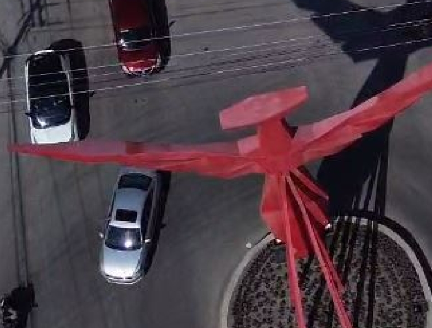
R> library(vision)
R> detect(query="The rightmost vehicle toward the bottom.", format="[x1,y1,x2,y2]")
[97,173,159,286]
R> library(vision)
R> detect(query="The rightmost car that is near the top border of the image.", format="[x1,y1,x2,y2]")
[108,0,164,80]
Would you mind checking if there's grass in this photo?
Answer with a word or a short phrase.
No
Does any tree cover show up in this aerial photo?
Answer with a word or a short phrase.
No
